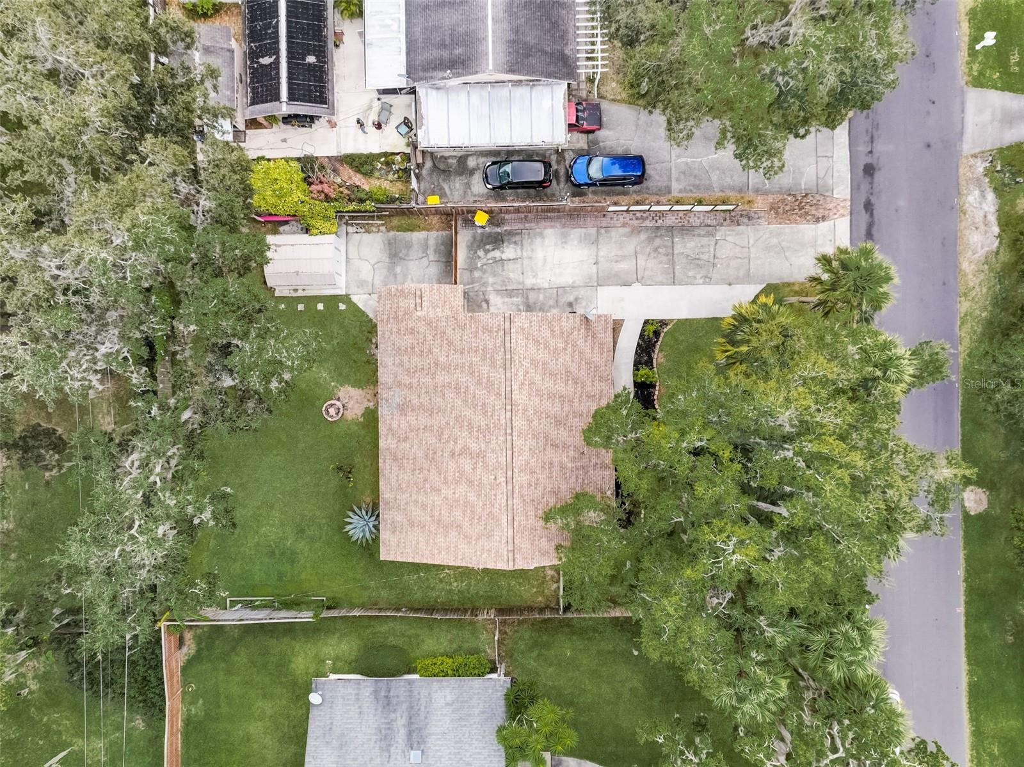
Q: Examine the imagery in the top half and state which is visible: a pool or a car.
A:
car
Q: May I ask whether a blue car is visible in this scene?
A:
Yes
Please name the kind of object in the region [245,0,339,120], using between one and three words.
house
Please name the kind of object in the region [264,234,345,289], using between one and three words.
shed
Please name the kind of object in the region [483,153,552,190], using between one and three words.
car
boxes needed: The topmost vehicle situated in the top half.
[566,97,602,134]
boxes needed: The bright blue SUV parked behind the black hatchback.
[568,149,645,187]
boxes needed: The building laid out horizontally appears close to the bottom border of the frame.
[305,673,511,767]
